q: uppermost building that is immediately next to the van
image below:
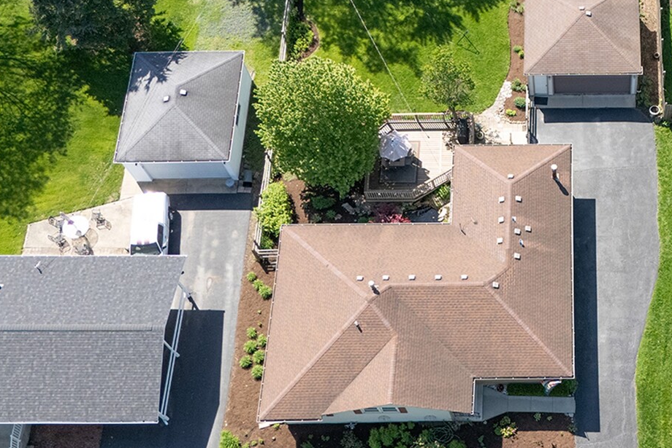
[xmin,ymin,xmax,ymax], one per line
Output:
[111,50,252,179]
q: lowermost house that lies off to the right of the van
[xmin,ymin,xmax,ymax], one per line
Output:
[254,143,576,440]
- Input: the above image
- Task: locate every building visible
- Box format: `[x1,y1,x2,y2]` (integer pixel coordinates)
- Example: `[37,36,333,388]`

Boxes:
[111,50,252,179]
[254,143,576,440]
[0,253,195,448]
[523,0,643,94]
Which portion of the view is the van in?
left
